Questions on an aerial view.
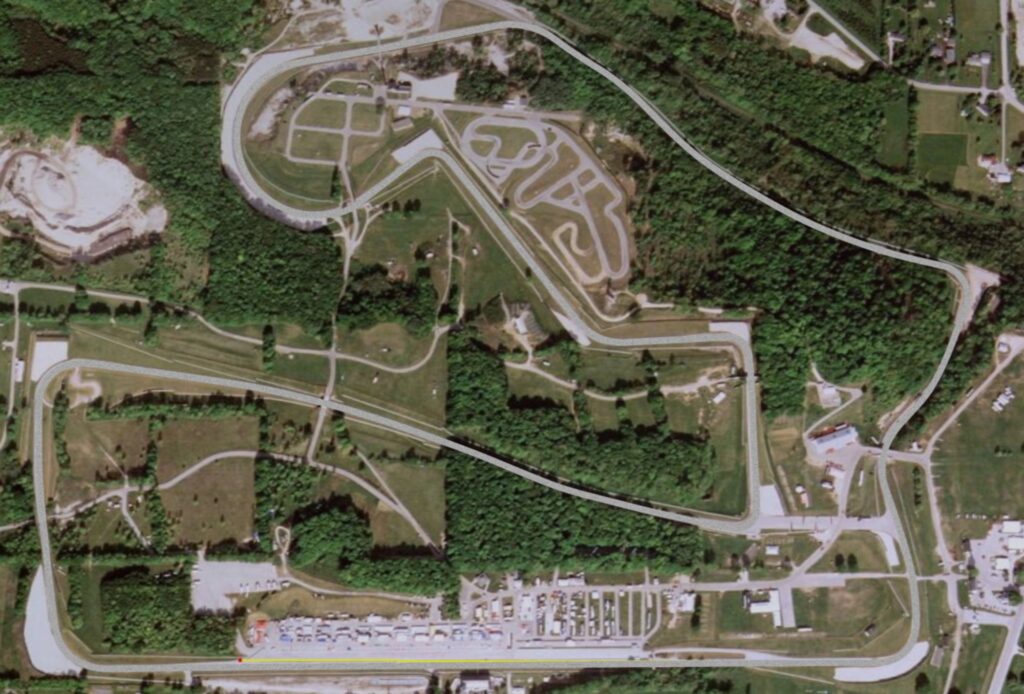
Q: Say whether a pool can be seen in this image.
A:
No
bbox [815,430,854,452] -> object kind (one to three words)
building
